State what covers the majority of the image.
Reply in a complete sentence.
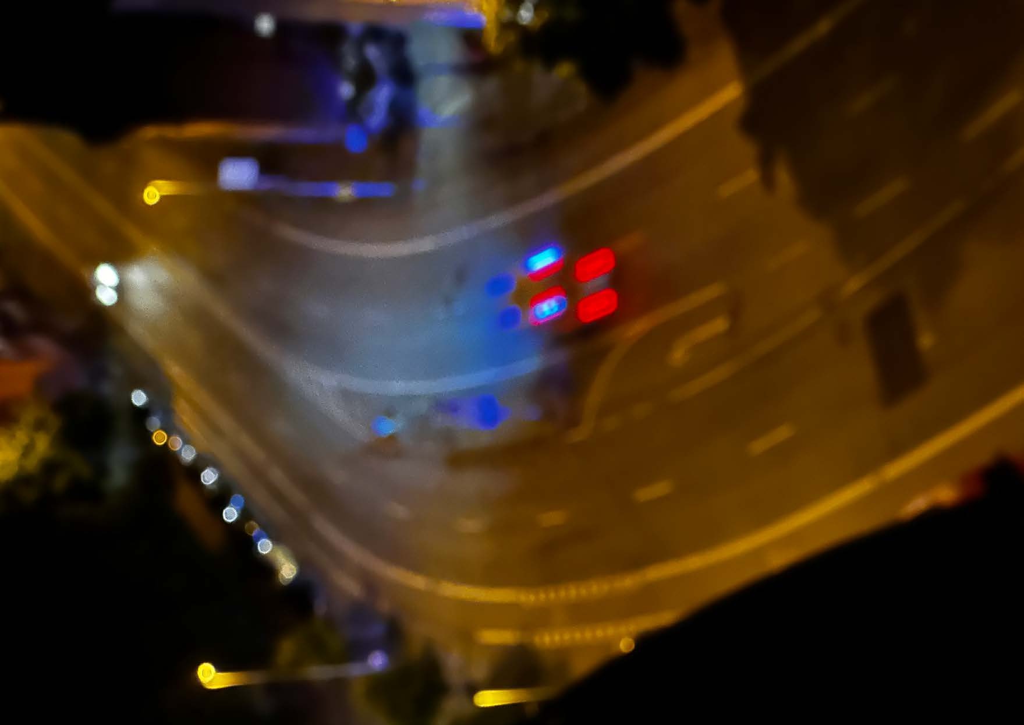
The scene is dominated by paved ground.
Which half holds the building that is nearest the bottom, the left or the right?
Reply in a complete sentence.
You can find the building that is nearest the bottom on the right side of the picture.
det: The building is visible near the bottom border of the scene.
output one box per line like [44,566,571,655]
[551,466,1024,725]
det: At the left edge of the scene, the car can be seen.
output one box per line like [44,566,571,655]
[44,265,111,307]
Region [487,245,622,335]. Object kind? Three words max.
truck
